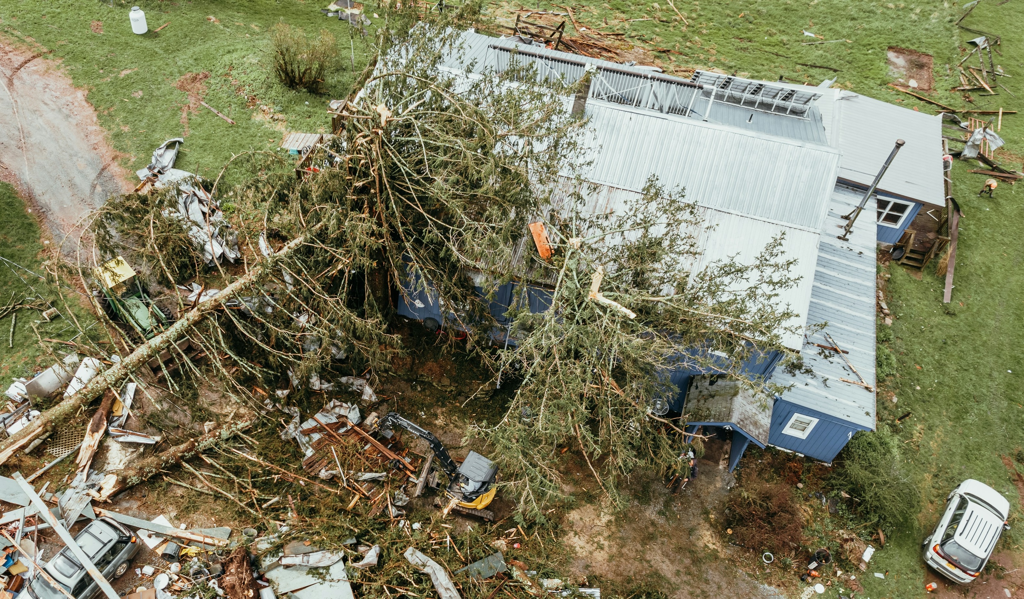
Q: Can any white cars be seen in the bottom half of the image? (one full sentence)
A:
Yes, there is a white car in the bottom half of the image.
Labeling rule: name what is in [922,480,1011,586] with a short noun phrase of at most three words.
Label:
car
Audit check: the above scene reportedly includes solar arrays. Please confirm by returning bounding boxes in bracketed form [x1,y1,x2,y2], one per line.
[690,68,827,120]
